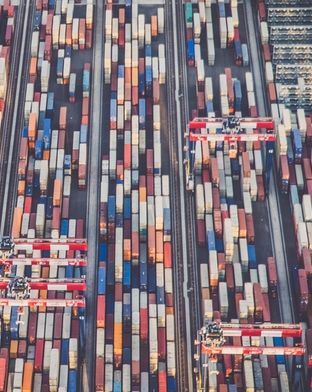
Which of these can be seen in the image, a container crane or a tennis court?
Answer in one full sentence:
Looking from above, you can make out a container crane.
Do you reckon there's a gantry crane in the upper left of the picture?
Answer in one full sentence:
No, no gantry crane appears in the upper left of the picture.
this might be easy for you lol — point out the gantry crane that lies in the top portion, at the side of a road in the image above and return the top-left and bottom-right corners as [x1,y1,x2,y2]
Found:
[185,115,273,191]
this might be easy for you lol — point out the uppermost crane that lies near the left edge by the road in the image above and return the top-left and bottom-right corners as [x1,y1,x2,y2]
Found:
[0,235,86,316]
